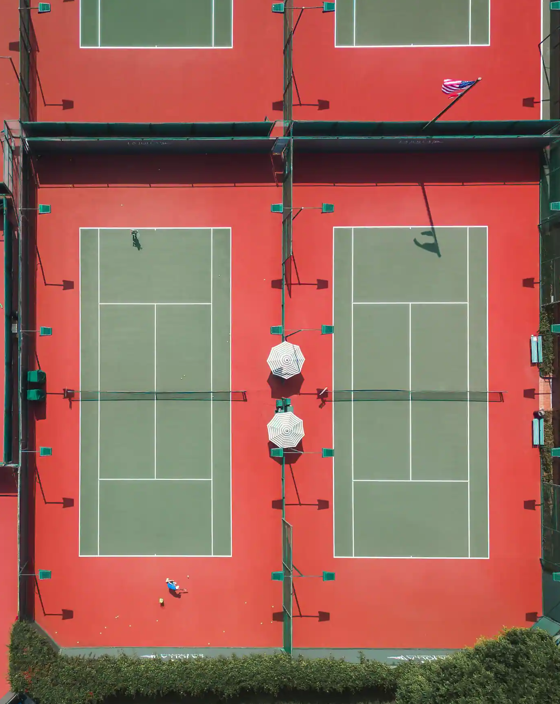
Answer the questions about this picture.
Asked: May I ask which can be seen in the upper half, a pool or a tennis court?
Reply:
tennis court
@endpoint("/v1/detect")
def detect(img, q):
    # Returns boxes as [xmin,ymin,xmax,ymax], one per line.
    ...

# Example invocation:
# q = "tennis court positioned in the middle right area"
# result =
[284,153,540,647]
